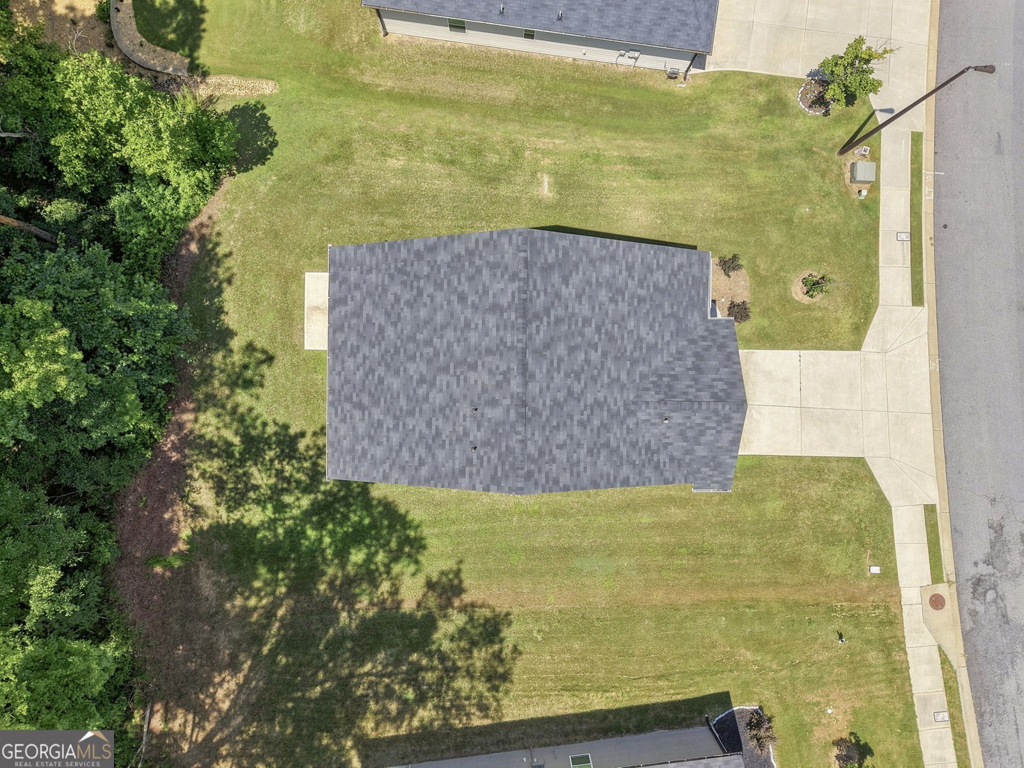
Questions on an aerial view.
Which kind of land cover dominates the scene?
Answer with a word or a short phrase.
grass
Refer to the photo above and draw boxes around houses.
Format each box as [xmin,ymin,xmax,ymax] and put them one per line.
[325,229,748,496]
[367,714,745,768]
[357,0,724,88]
